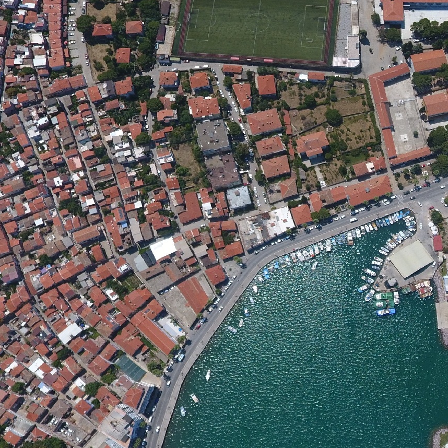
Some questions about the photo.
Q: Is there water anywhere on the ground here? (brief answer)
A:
Yes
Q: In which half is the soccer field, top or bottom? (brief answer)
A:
top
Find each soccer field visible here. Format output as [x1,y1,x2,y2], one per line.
[172,0,338,66]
